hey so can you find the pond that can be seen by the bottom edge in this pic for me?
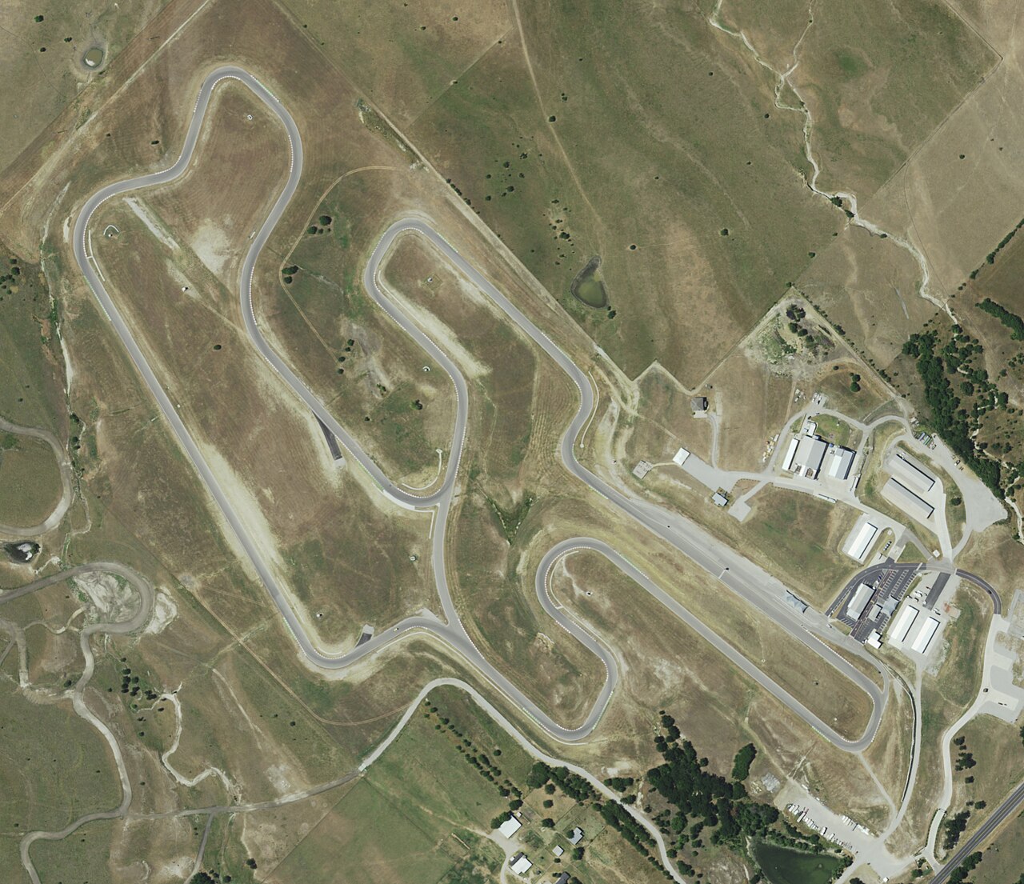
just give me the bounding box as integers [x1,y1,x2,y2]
[751,839,840,884]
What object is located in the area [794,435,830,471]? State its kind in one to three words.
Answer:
building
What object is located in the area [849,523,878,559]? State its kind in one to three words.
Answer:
hangar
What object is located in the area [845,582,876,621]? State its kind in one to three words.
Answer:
building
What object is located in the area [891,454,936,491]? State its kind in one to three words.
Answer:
hangar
